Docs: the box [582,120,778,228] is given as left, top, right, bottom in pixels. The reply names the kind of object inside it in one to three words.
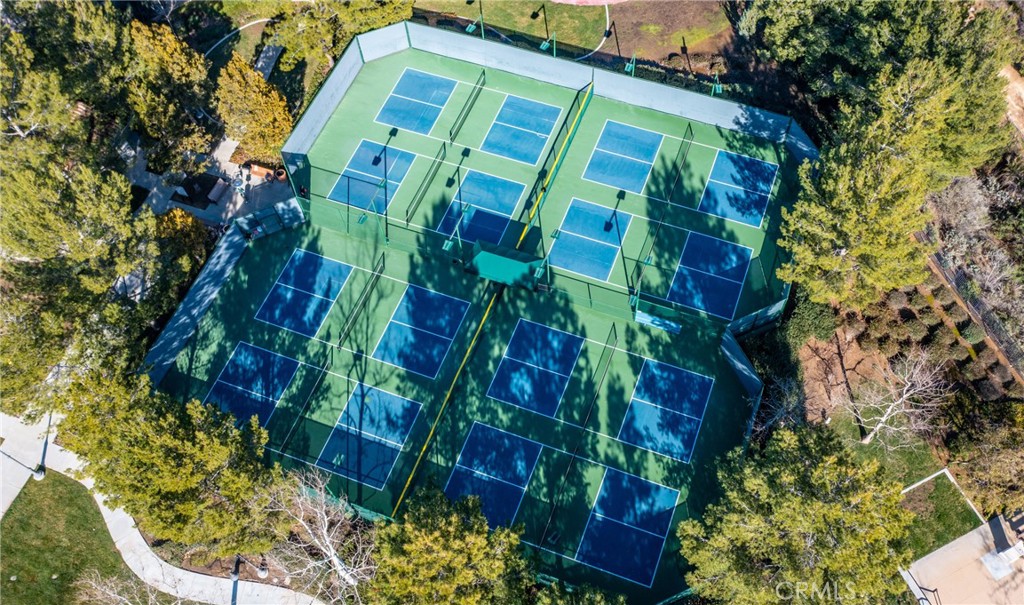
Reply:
sports court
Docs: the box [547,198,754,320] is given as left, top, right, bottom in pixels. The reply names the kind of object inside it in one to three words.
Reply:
sports court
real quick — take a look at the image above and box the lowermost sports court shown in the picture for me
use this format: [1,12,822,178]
[440,422,680,588]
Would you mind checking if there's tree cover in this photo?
Yes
